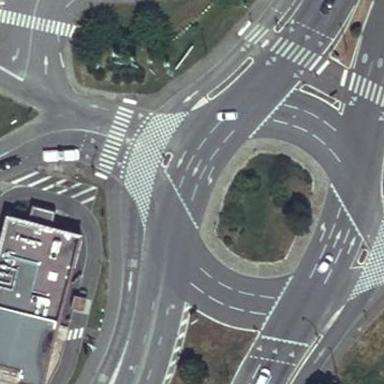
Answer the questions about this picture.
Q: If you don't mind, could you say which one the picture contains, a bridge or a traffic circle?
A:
traffic circle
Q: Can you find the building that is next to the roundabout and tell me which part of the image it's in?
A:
bottom left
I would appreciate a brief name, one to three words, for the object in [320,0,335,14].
car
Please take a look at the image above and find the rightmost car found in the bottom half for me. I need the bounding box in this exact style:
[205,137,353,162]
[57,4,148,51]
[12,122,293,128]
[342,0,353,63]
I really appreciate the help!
[316,252,335,276]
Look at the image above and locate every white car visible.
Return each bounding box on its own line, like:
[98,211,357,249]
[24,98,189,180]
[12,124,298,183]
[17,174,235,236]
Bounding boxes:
[217,111,238,122]
[316,252,335,276]
[256,367,272,384]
